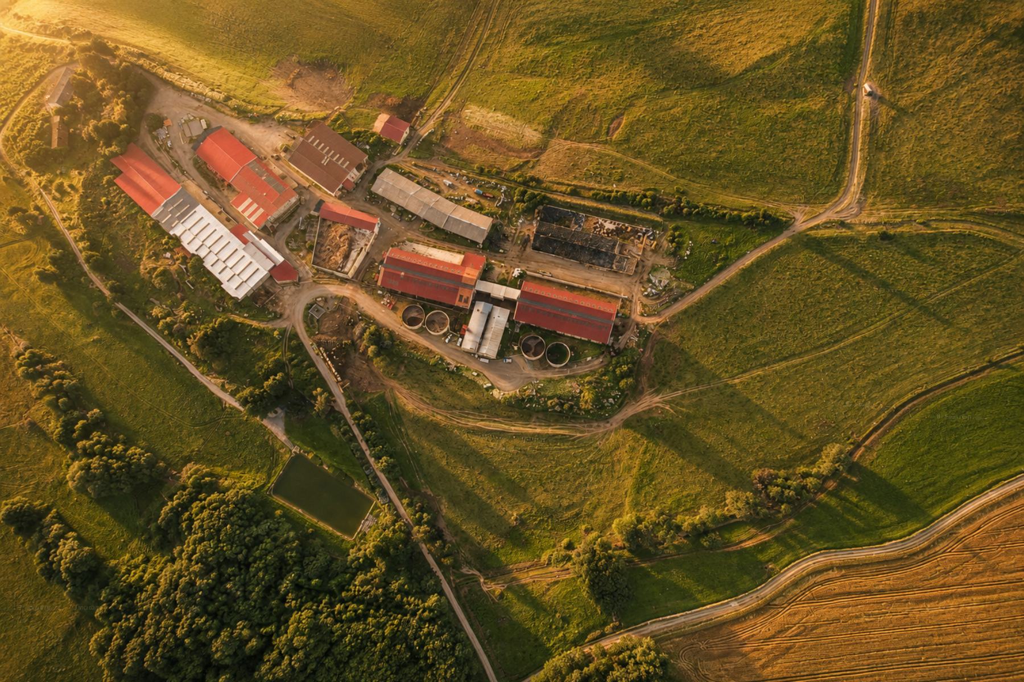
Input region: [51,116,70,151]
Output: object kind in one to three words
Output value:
building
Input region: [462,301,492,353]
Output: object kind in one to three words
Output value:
shed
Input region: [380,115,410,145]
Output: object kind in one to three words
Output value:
house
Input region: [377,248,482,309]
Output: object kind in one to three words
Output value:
barn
